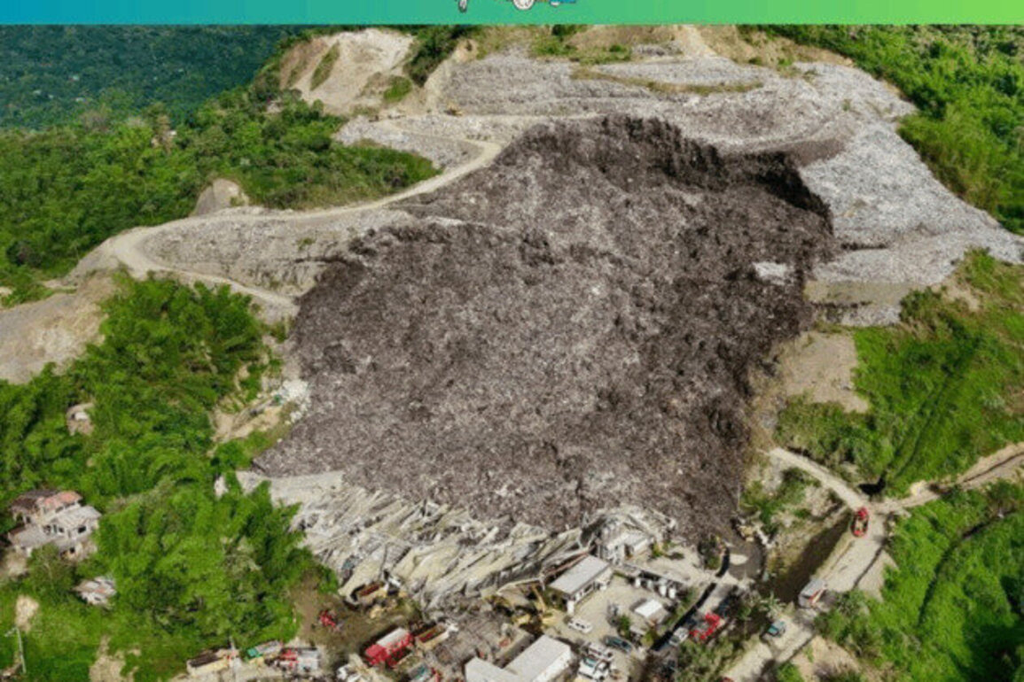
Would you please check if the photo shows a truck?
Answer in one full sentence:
Yes, the image includes a truck.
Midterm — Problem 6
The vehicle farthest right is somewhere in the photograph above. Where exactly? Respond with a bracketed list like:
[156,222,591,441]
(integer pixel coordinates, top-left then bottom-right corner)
[851,498,873,535]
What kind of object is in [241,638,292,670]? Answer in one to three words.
truck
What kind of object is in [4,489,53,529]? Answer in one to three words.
house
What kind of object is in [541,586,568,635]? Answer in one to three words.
work vehicle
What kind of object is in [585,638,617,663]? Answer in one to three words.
car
